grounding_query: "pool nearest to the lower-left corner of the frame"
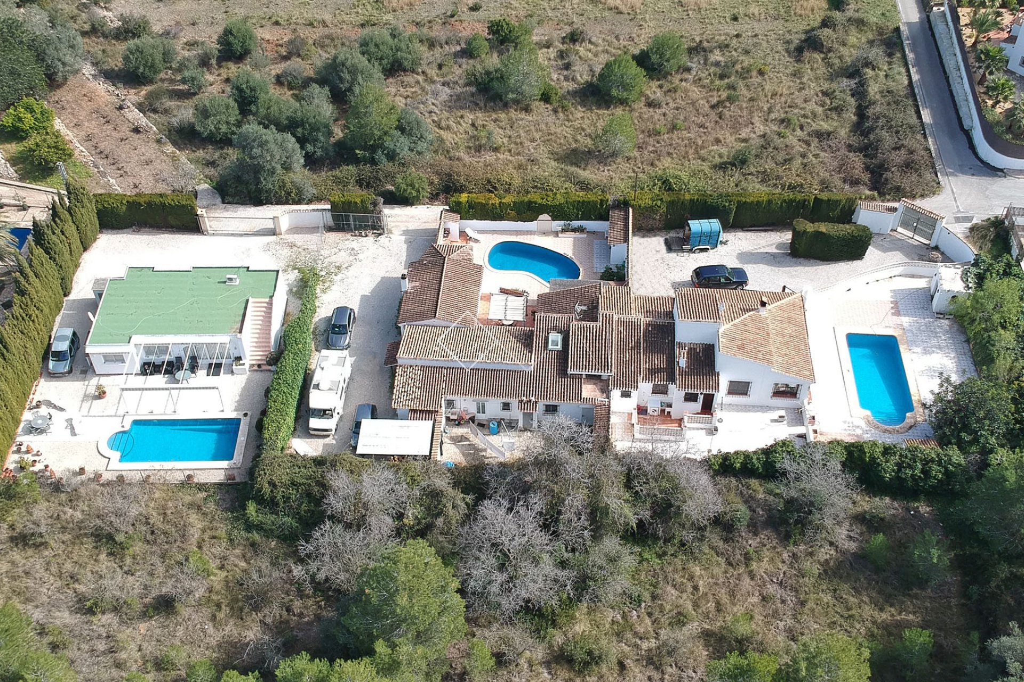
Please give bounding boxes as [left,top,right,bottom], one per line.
[97,413,250,470]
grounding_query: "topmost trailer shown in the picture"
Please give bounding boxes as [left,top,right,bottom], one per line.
[675,226,733,257]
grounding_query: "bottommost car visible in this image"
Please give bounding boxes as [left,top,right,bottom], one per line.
[345,399,381,449]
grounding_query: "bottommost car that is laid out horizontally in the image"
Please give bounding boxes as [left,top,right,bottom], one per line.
[693,265,748,292]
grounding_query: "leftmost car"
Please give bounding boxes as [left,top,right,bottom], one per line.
[48,331,79,372]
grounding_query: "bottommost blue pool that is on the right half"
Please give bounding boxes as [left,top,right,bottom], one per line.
[837,327,926,434]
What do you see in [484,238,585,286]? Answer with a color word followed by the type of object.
blue swimming pool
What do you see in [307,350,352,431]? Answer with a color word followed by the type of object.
white van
